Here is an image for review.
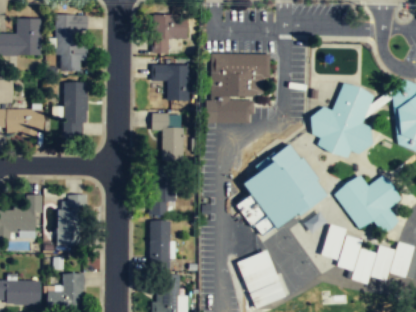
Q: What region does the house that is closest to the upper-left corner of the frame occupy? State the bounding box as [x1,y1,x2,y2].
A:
[0,17,41,54]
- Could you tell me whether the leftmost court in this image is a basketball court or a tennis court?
basketball court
